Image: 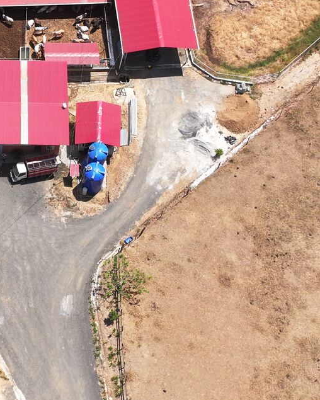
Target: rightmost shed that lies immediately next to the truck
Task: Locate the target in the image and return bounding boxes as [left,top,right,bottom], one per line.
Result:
[76,98,122,147]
